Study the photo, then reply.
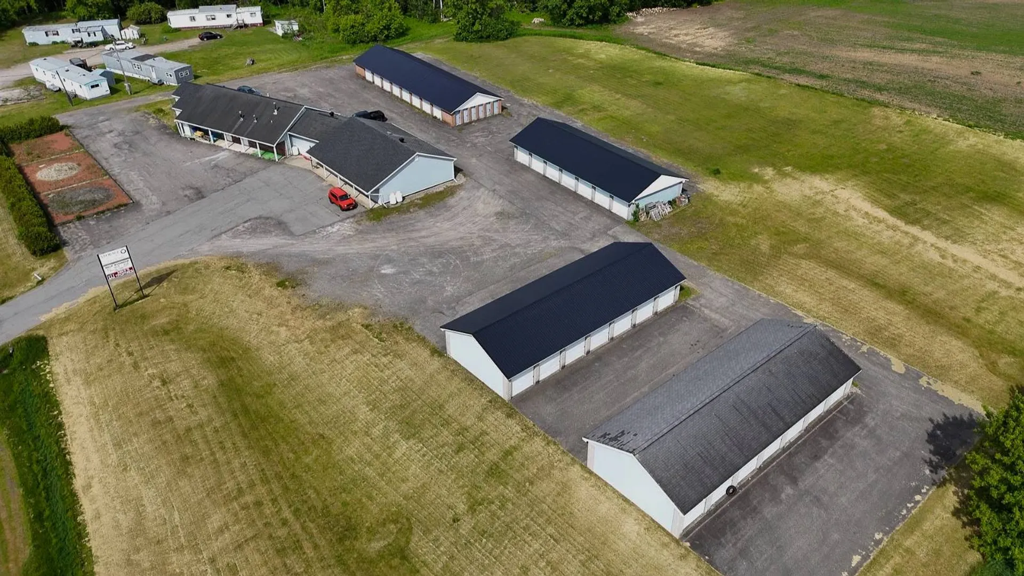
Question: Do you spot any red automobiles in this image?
Yes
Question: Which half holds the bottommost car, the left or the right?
left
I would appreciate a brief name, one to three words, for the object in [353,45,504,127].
building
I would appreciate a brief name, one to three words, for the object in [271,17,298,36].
shed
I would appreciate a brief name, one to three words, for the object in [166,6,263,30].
house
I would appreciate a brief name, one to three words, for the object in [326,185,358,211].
car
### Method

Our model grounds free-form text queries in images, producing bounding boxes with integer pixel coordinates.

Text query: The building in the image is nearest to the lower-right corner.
[583,319,862,538]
